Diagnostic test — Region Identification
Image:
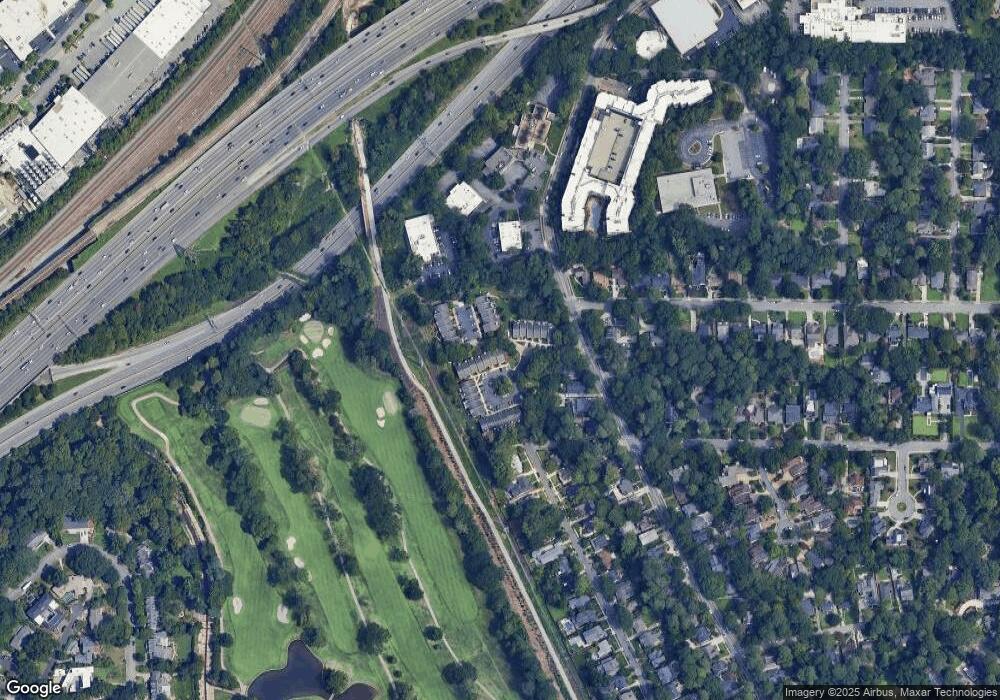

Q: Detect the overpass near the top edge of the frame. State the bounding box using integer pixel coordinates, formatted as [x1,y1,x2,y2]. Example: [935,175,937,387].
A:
[438,0,641,62]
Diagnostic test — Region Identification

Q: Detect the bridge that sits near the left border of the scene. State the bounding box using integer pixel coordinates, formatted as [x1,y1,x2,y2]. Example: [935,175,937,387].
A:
[0,226,100,310]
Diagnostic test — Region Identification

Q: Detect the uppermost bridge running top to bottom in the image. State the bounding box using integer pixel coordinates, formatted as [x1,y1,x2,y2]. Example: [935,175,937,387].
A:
[358,168,382,262]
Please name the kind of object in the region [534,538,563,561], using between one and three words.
house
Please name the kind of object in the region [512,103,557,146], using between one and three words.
building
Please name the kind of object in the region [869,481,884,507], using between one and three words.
house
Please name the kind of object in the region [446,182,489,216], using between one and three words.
building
